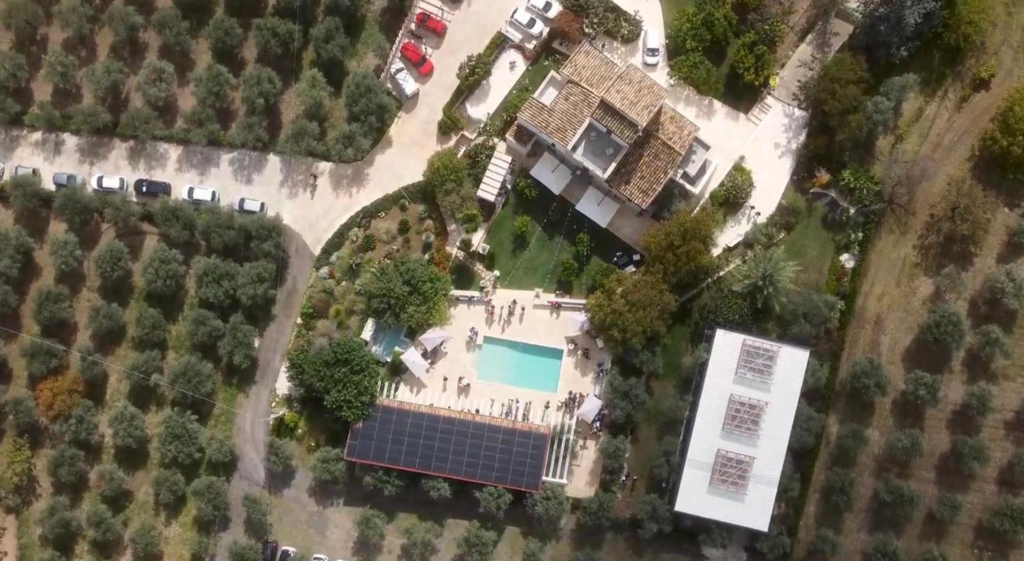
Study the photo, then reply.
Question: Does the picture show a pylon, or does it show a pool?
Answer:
pool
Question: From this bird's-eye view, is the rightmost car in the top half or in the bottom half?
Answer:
top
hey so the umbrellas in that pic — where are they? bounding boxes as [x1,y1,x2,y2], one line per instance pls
[420,322,453,355]
[575,185,619,228]
[400,345,431,377]
[575,392,604,425]
[529,151,572,195]
[564,312,591,336]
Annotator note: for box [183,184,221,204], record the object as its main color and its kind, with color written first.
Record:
white car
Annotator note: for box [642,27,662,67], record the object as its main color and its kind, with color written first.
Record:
white car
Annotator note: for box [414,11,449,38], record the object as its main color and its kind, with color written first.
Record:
red car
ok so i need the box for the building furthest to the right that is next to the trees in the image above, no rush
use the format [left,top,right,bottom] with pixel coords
[667,328,810,531]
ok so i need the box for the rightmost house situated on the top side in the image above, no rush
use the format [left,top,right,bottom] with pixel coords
[506,40,721,212]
